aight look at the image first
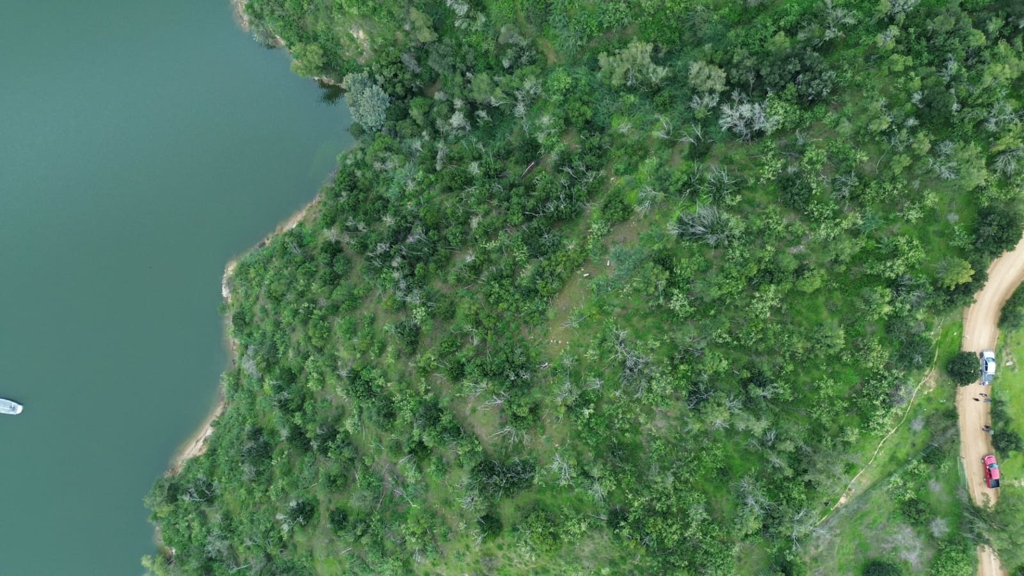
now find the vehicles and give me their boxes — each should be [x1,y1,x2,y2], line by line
[982,455,1002,492]
[979,351,999,386]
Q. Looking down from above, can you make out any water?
Yes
